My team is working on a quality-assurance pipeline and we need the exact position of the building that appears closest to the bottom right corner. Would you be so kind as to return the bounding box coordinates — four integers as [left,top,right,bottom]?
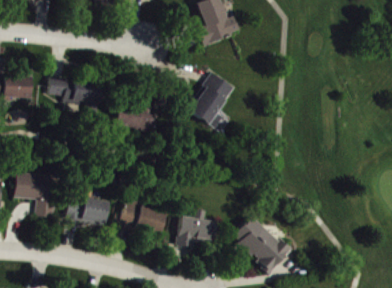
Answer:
[233,218,295,275]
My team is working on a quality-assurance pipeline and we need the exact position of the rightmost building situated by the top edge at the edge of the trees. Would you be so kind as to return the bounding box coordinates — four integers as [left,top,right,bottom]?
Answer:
[198,0,242,48]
